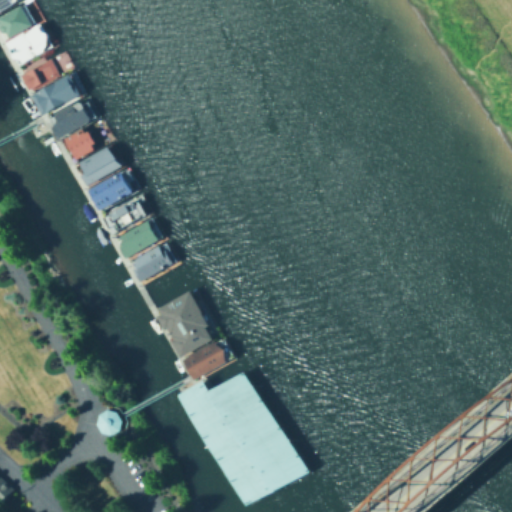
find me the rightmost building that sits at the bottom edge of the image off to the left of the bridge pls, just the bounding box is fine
[182,372,311,508]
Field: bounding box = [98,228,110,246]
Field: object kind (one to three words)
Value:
boat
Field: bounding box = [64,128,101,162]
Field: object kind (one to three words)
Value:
house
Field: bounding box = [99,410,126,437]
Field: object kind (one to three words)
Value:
building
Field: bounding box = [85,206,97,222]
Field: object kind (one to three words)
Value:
boat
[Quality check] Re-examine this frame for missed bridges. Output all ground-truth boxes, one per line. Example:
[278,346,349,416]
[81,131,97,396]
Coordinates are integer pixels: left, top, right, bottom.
[350,372,512,512]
